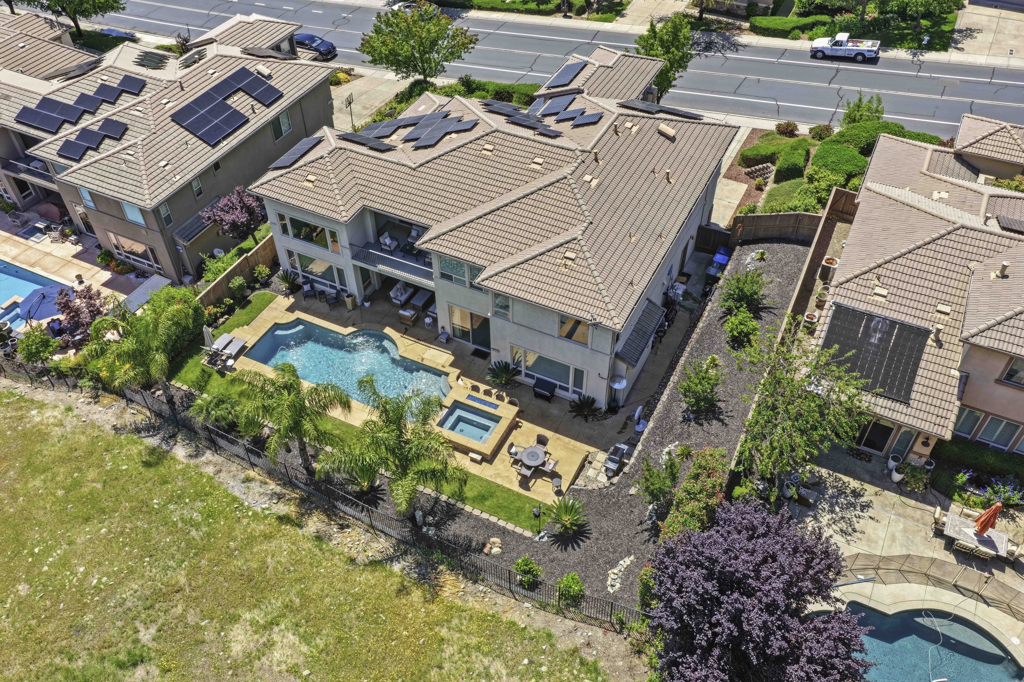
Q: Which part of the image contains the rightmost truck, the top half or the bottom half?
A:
top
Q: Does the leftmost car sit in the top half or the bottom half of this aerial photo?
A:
top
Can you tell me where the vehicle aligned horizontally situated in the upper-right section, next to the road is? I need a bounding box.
[804,30,879,62]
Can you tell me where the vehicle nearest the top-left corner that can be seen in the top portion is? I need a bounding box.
[300,34,336,60]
